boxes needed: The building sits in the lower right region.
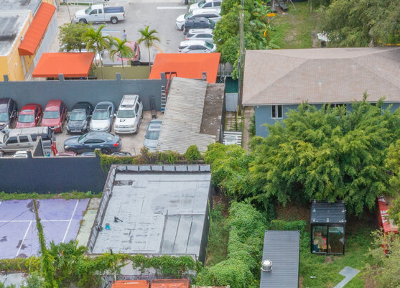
[309,201,345,256]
